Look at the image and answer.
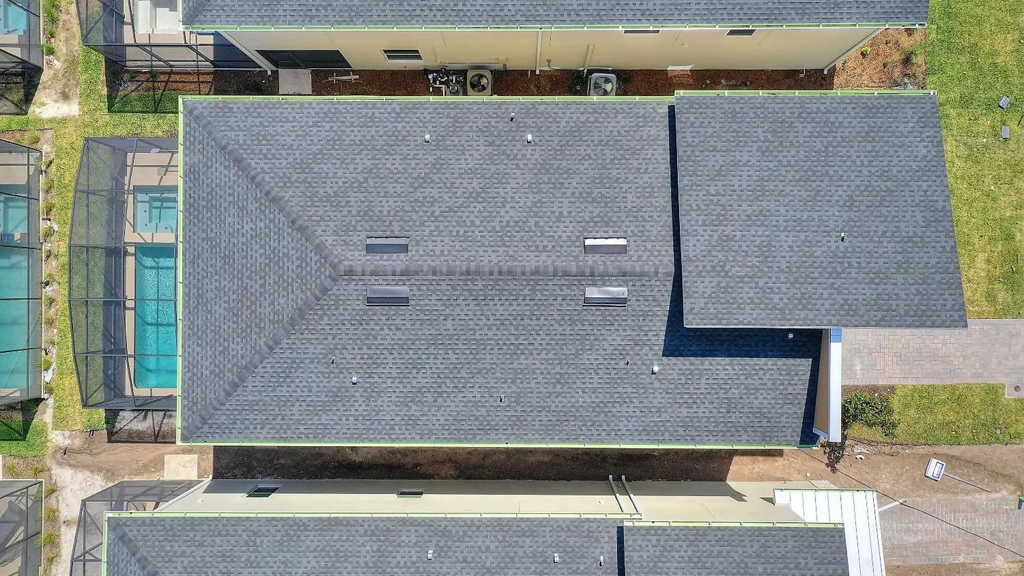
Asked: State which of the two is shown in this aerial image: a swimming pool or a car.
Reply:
swimming pool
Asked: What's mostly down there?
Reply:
buildings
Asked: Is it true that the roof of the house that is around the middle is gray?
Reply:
Yes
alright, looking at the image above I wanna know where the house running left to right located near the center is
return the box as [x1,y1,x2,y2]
[178,90,968,445]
